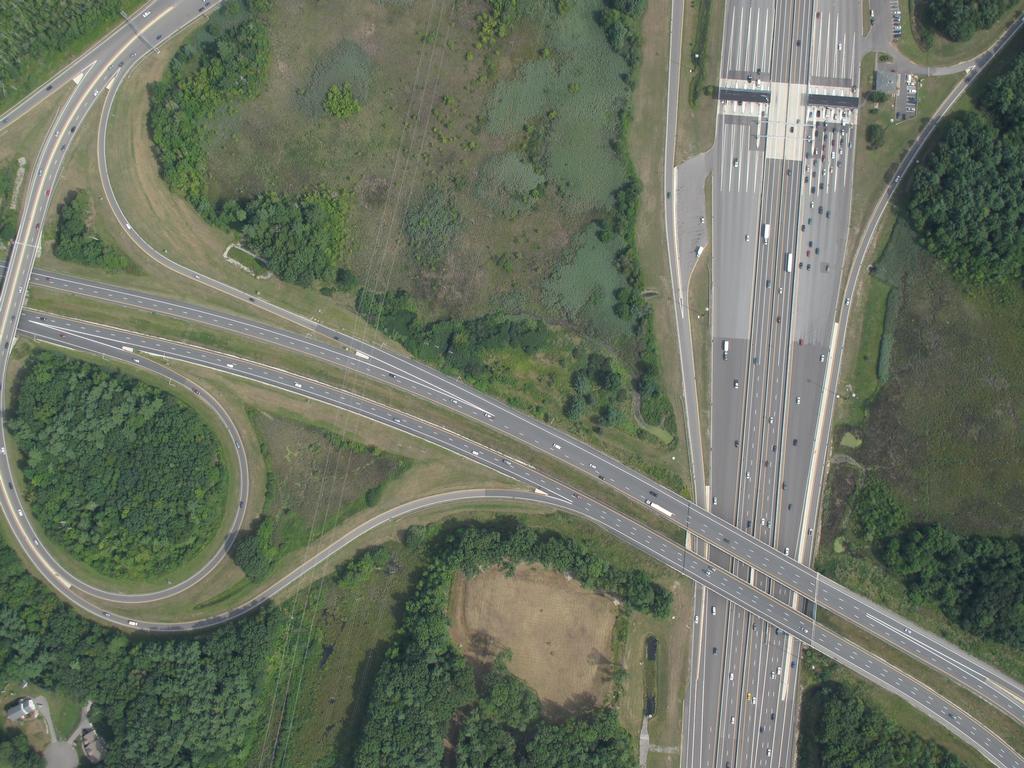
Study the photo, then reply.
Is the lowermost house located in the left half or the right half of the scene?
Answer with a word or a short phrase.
left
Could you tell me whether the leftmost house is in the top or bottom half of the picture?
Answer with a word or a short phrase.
bottom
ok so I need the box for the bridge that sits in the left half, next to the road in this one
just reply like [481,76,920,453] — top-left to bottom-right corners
[0,243,37,349]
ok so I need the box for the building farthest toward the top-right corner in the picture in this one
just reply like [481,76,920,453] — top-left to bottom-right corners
[876,71,896,95]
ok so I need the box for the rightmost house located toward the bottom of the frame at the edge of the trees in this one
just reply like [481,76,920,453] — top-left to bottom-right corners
[79,729,101,763]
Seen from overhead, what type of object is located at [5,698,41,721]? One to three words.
house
